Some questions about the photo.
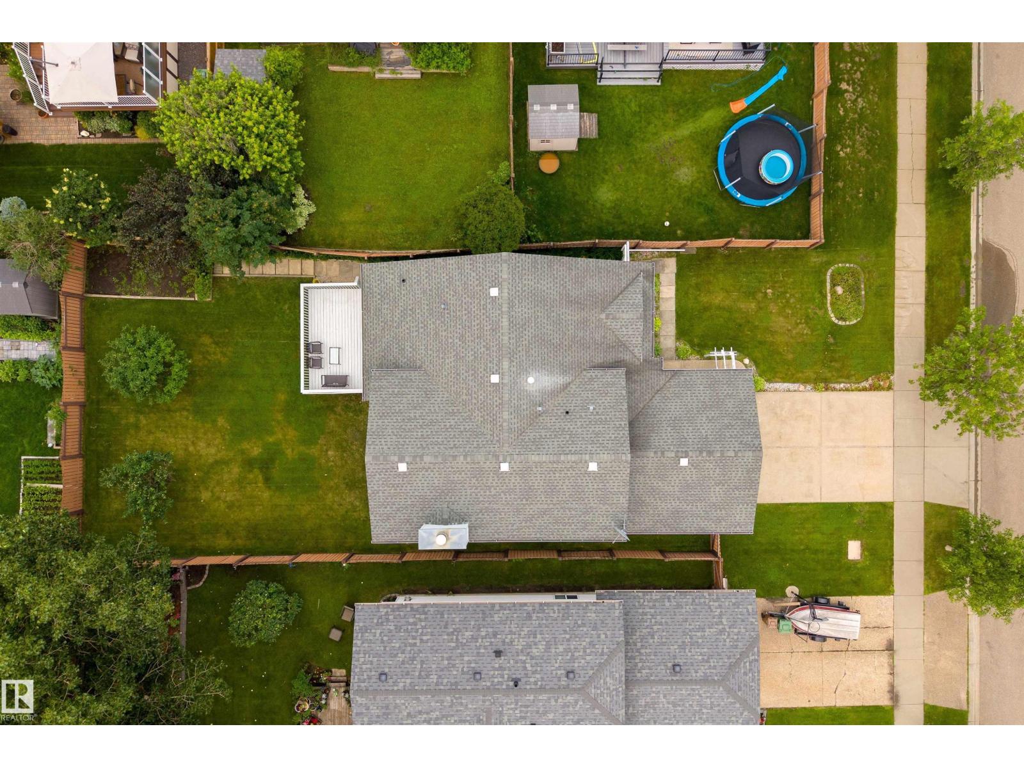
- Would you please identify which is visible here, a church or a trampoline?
trampoline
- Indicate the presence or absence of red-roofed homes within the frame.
No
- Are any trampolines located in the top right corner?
Yes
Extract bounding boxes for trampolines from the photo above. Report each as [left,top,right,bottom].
[714,102,819,210]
